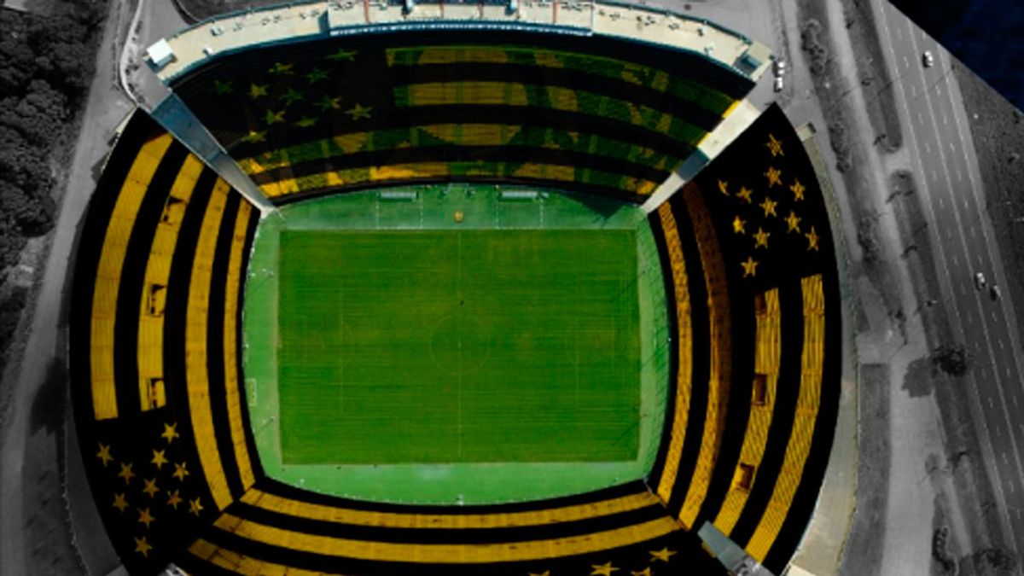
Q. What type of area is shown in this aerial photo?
sports ground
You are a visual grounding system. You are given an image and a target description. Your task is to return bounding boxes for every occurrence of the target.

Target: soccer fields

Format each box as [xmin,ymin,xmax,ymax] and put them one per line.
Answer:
[279,229,640,464]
